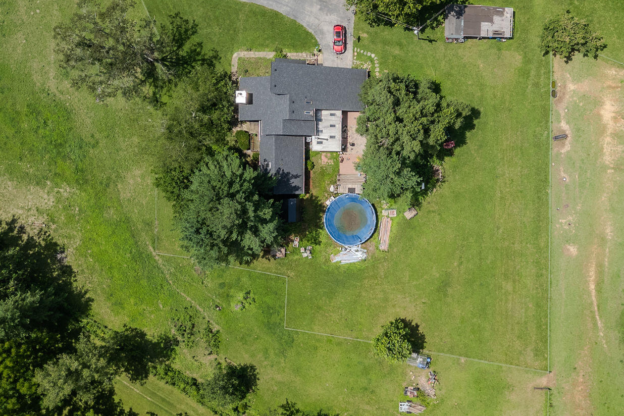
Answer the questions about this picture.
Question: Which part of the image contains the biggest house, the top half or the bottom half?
top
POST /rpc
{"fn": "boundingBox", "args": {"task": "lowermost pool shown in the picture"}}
[324,194,377,246]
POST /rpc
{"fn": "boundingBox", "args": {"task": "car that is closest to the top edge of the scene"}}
[332,24,347,55]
